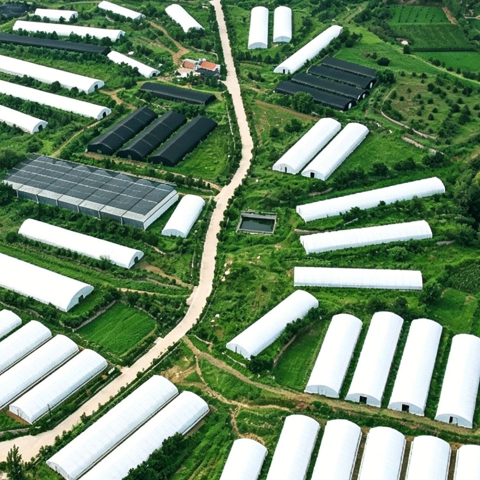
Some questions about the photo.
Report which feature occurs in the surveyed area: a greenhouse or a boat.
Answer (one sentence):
The one in the frame is a greenhouse.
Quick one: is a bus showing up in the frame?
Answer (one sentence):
No, the frame has no bus in it.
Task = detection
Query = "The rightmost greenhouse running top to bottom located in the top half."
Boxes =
[274,2,291,42]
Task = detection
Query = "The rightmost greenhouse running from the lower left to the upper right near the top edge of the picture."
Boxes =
[275,22,343,74]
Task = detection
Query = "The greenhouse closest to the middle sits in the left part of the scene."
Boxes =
[162,194,205,238]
